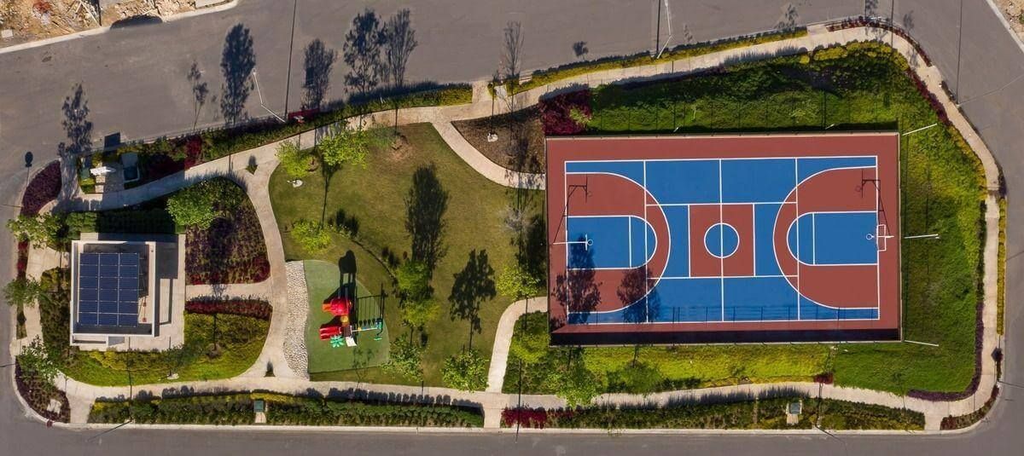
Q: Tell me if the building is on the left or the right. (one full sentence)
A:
The building is on the left side of the image.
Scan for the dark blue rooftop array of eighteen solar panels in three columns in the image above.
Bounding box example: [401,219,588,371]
[78,253,146,326]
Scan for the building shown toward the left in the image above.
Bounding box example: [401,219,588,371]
[71,241,172,345]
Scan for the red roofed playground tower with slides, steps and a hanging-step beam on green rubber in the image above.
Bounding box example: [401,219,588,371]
[318,298,384,349]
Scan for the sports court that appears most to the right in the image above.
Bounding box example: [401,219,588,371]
[548,135,900,346]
